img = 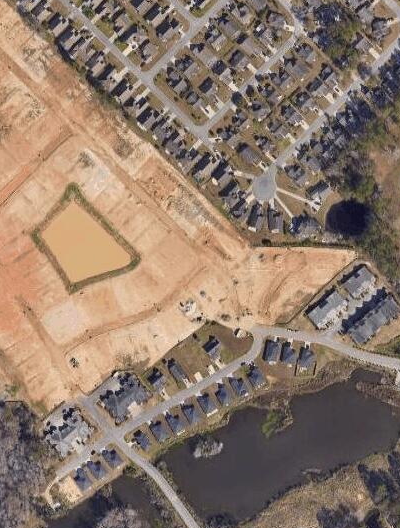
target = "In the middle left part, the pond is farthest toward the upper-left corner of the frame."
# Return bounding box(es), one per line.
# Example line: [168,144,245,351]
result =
[43,200,132,283]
